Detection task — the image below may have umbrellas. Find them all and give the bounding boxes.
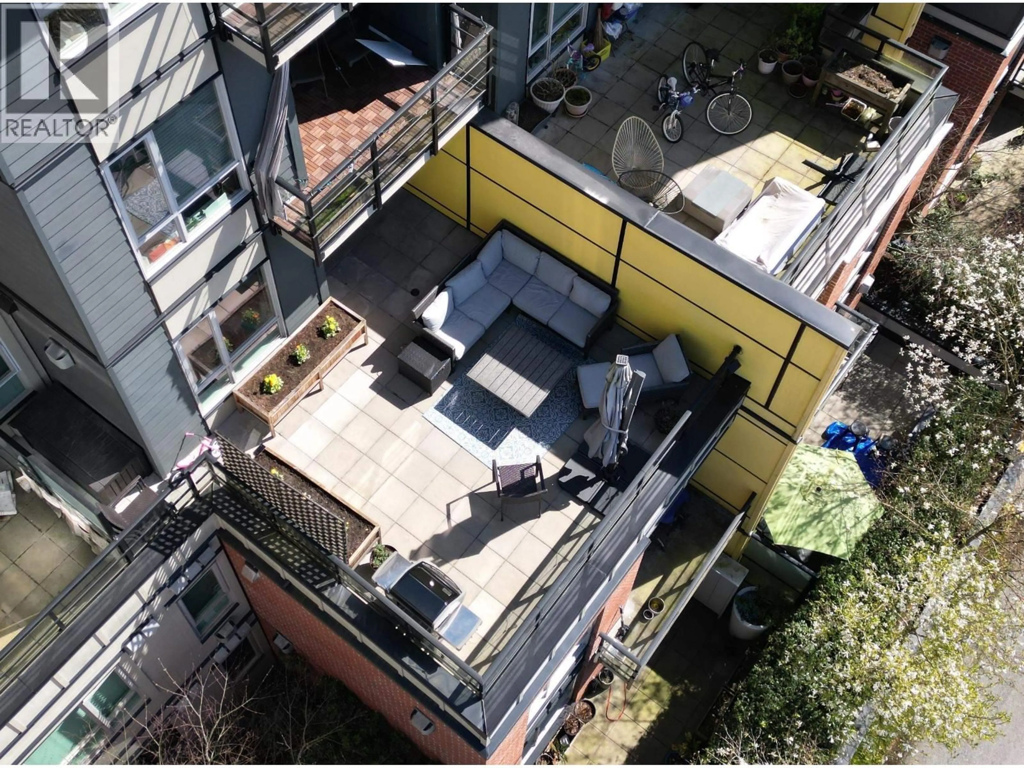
[555,351,661,522]
[764,447,886,564]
